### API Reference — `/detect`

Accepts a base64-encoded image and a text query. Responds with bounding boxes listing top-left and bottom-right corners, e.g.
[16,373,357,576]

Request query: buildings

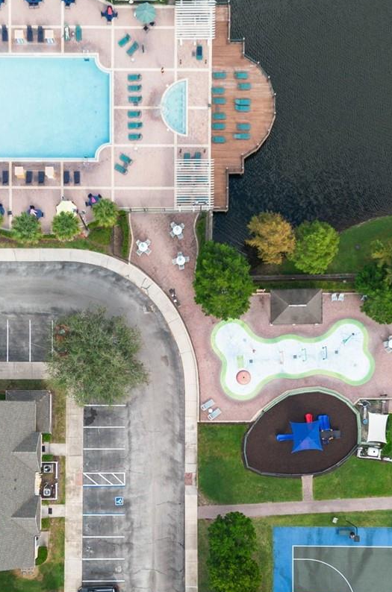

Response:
[270,289,322,327]
[0,389,55,573]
